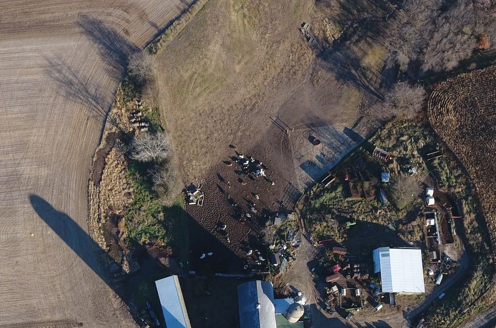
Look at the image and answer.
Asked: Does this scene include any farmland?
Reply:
Yes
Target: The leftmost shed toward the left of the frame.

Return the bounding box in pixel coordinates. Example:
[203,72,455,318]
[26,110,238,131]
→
[156,275,192,328]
